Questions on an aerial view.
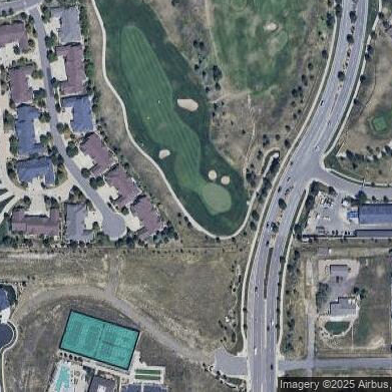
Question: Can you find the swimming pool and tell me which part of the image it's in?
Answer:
bottom left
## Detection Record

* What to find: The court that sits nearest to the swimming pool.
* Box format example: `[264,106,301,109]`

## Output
[61,311,139,369]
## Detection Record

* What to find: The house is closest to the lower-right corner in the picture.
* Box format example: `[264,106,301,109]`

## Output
[329,297,357,316]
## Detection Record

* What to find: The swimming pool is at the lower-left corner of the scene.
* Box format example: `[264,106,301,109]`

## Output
[51,360,88,392]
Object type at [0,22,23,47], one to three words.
house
